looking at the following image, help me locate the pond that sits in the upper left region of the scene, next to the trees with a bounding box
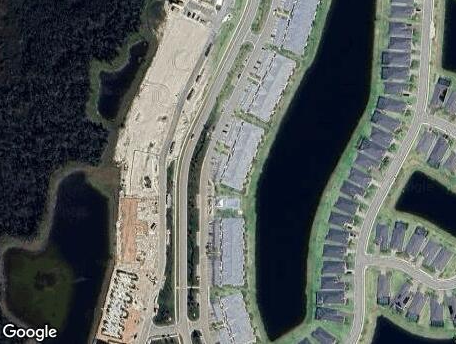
[99,41,147,119]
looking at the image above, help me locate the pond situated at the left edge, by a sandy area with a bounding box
[4,171,111,344]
